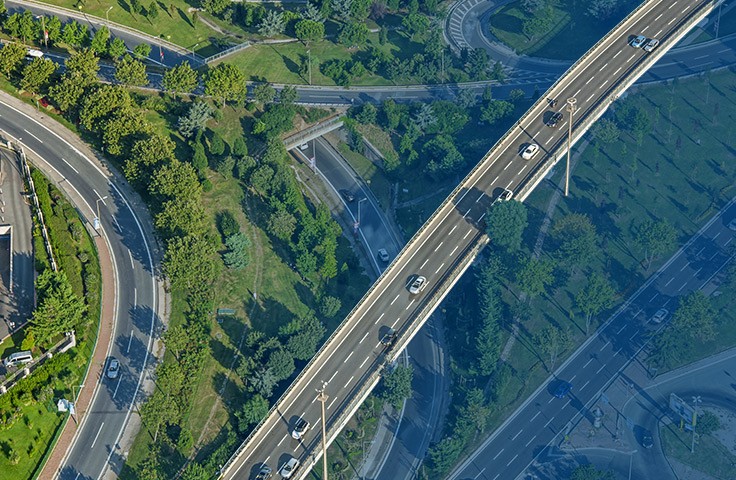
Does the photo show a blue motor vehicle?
Yes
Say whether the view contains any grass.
Yes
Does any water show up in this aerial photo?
No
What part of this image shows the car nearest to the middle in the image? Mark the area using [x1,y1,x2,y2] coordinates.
[377,246,390,262]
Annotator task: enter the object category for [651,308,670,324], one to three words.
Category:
car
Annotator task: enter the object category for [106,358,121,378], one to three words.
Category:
car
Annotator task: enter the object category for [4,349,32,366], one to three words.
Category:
vehicle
